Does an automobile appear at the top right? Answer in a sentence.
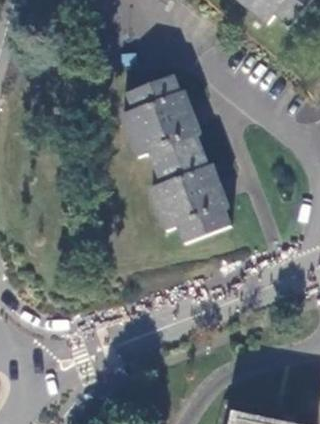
Yes, looking at the top right, one can make out an automobile.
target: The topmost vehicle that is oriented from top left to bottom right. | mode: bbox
[2,288,19,310]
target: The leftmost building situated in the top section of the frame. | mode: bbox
[126,74,232,248]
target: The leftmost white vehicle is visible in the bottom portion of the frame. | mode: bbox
[20,308,42,324]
